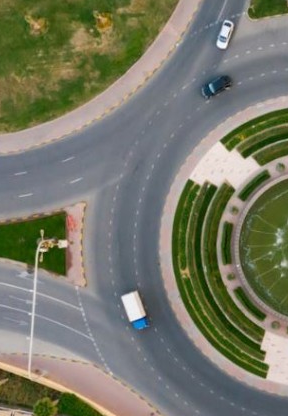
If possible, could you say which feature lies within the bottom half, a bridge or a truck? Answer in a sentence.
Visible within the bottom half is a truck.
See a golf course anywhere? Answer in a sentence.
No, no golf course can be seen from above.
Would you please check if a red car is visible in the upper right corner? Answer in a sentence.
No, looking in the upper right corner, there is no red car.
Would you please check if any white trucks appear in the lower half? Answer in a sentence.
Yes, a white truck can be seen in the lower half.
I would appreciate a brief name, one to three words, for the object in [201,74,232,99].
car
